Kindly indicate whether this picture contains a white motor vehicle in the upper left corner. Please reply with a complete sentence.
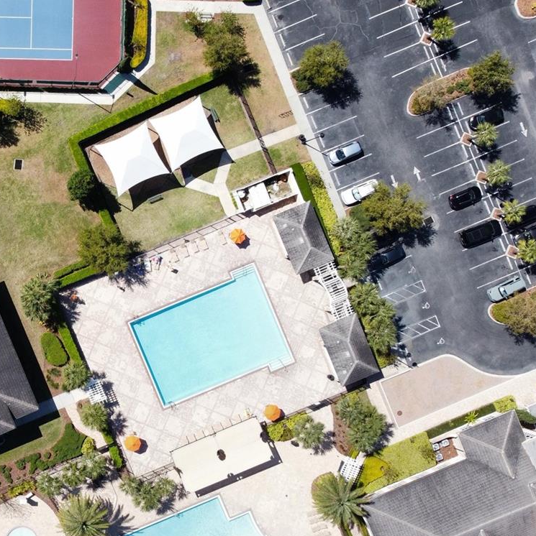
No, there's no white motor vehicle to be seen in the upper left corner.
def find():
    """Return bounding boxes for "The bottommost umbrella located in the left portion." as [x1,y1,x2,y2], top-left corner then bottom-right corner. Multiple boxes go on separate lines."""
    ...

[124,436,140,453]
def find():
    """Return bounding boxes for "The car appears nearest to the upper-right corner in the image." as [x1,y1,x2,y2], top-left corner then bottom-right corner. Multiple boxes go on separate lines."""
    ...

[464,106,505,131]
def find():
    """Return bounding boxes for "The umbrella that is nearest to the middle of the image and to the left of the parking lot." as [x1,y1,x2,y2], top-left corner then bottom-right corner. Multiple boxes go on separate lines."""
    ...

[228,226,246,244]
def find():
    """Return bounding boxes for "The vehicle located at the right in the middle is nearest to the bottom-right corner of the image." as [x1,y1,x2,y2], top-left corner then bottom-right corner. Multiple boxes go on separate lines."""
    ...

[484,273,528,300]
